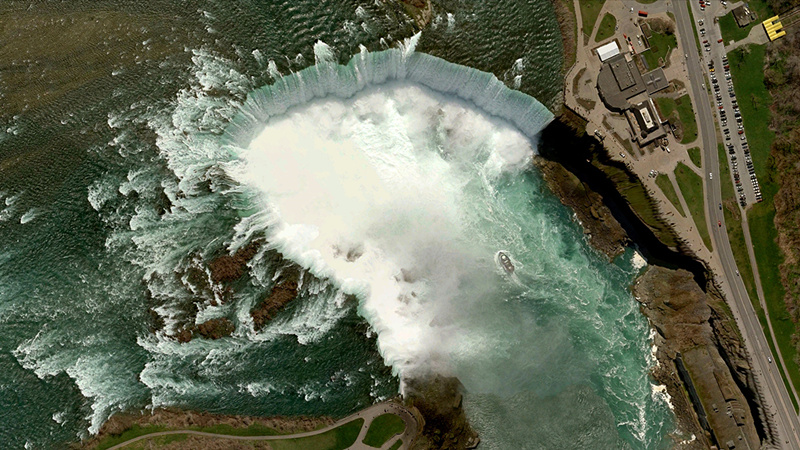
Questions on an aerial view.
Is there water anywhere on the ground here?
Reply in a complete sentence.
Yes, there is water in the image.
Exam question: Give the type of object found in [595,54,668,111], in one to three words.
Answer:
building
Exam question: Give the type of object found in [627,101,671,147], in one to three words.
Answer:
house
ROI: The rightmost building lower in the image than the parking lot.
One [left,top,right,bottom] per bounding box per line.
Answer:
[681,348,762,450]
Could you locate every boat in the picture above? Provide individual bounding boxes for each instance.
[500,251,516,275]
